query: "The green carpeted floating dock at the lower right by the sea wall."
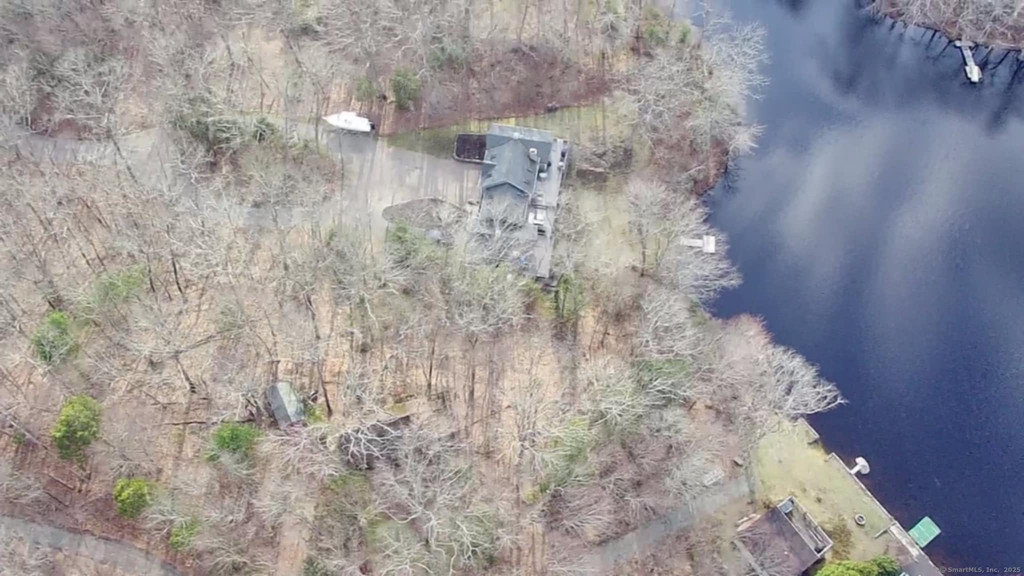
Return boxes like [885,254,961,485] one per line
[907,516,942,548]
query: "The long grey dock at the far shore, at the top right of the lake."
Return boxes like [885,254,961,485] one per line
[956,40,983,80]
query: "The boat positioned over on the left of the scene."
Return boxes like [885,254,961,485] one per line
[323,110,374,136]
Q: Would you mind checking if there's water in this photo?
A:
Yes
